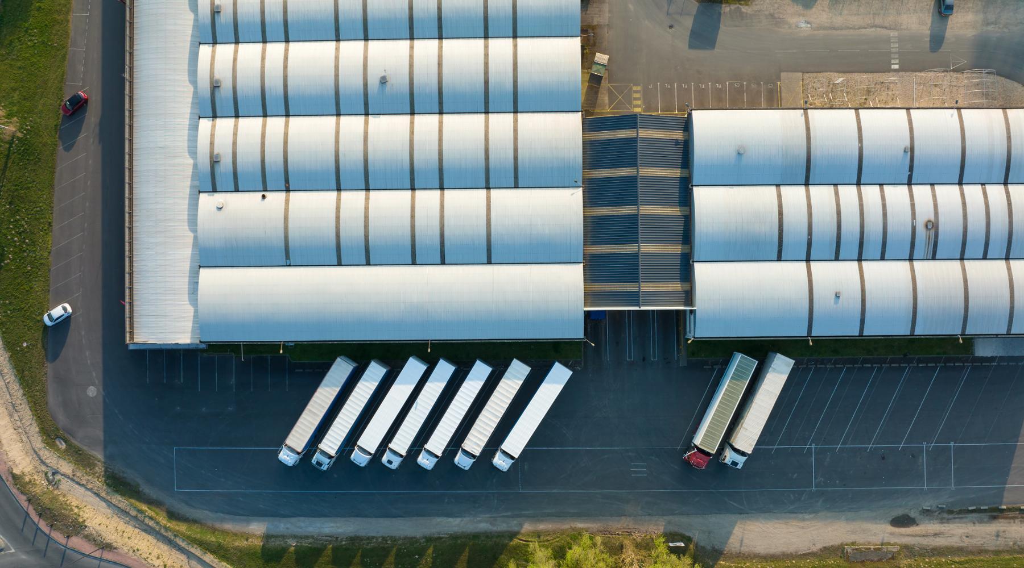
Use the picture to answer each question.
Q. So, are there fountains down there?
No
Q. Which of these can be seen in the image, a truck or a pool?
truck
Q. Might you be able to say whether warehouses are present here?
Yes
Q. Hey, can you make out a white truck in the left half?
Yes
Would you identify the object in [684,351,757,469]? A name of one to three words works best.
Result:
truck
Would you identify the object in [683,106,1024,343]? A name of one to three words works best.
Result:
warehouse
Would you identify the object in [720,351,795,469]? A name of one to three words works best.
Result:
truck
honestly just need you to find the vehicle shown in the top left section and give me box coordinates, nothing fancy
[59,89,88,113]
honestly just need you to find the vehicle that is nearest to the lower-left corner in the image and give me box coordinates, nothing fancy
[41,303,72,326]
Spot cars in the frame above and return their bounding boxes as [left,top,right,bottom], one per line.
[41,303,72,326]
[935,0,952,15]
[59,89,88,113]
